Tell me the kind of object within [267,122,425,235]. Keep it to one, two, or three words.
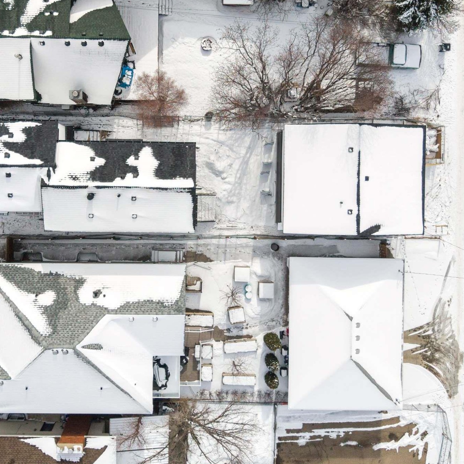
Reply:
building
